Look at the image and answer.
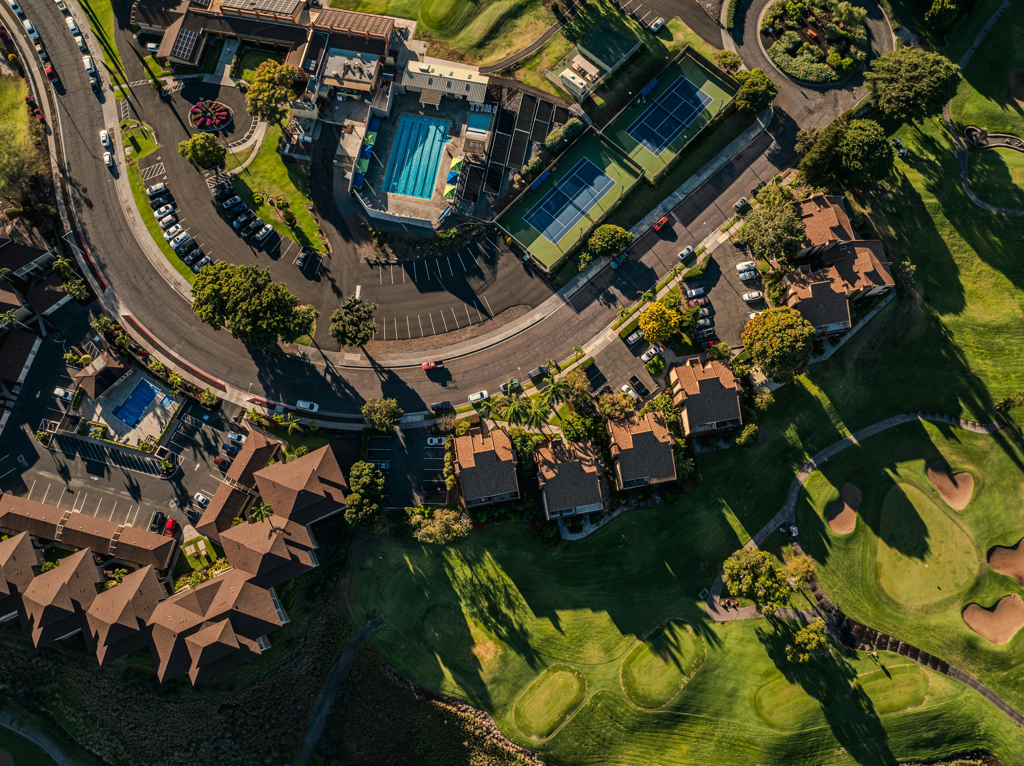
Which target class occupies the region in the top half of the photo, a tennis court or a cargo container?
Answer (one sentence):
There is a tennis court in the top half of the photo.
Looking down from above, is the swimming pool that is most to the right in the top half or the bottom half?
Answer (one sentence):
The top half of the photo is where the swimming pool that is most to the right is.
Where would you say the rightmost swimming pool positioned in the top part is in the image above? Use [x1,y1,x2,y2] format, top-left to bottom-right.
[464,111,492,139]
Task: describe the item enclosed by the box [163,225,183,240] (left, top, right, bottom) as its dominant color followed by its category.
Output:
white car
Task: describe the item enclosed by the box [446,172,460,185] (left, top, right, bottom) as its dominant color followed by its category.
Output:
blue umbrella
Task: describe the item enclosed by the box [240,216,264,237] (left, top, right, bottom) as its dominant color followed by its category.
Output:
black truck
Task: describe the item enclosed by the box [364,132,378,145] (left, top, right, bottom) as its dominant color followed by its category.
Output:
green umbrella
